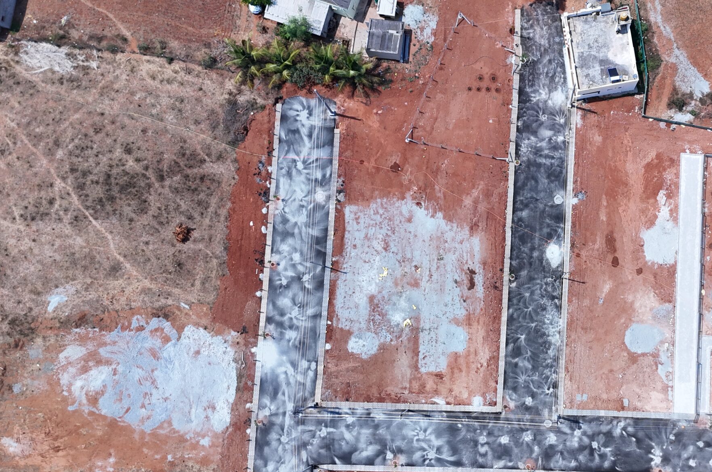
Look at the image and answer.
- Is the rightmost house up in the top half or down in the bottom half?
top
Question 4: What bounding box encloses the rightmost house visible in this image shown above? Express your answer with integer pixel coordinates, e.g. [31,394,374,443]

[563,3,639,105]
